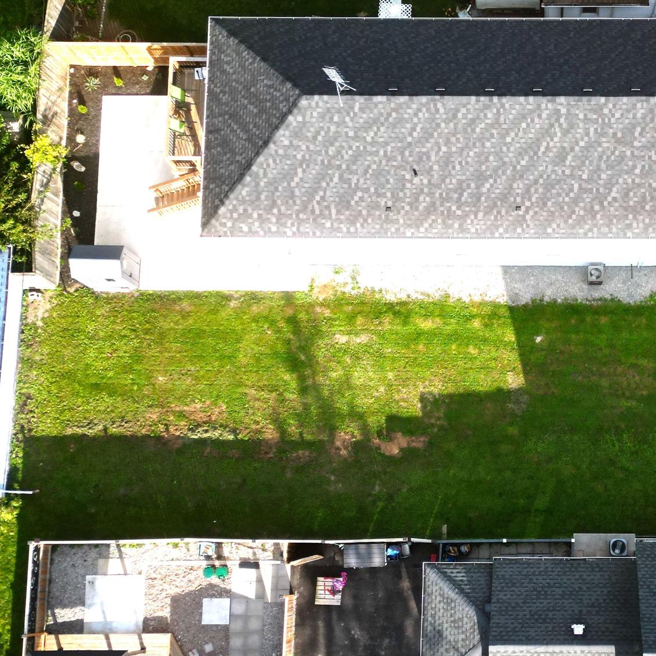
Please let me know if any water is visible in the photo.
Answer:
No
